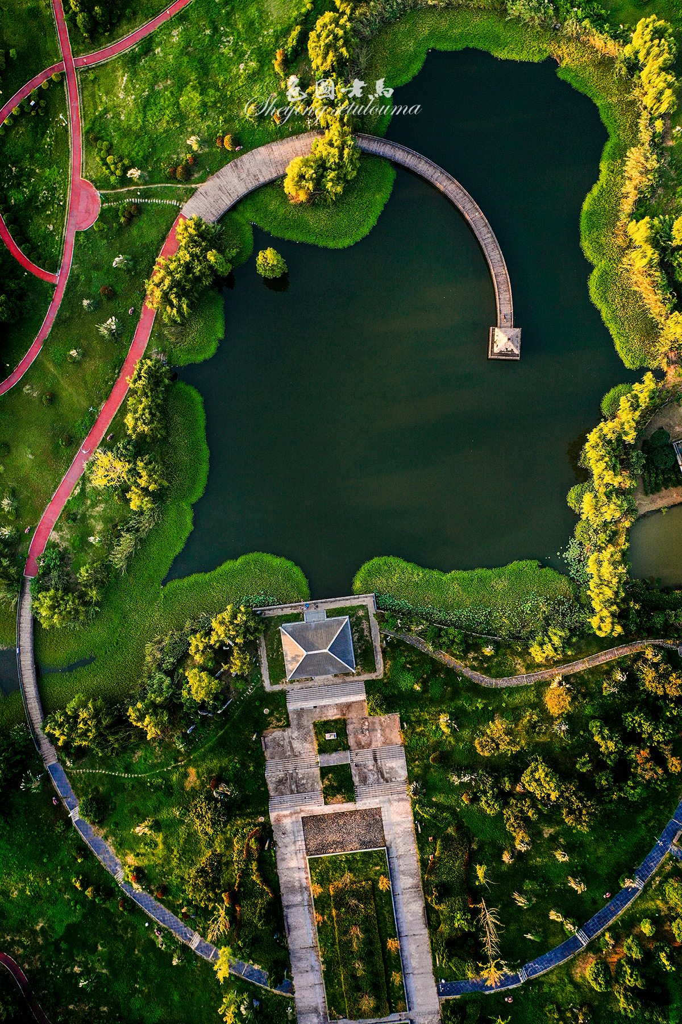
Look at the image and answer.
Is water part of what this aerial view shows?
Yes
